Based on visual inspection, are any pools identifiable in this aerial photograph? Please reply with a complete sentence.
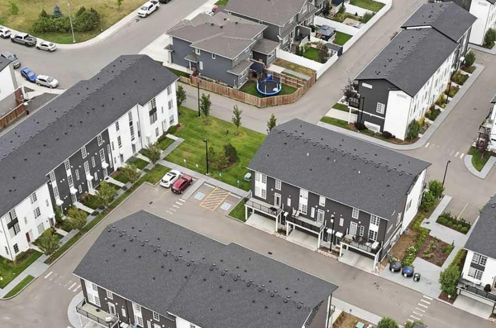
No, I find no pool anywhere in the image.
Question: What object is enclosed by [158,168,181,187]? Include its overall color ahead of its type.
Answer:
white car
